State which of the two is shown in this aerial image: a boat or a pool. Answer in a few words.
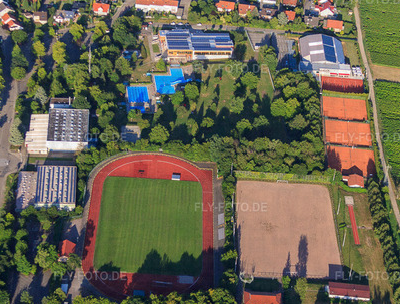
pool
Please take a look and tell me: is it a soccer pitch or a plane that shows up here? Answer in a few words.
soccer pitch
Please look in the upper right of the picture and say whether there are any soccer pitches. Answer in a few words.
No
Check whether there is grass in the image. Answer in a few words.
Yes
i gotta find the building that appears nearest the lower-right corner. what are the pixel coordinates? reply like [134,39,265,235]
[325,283,371,302]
